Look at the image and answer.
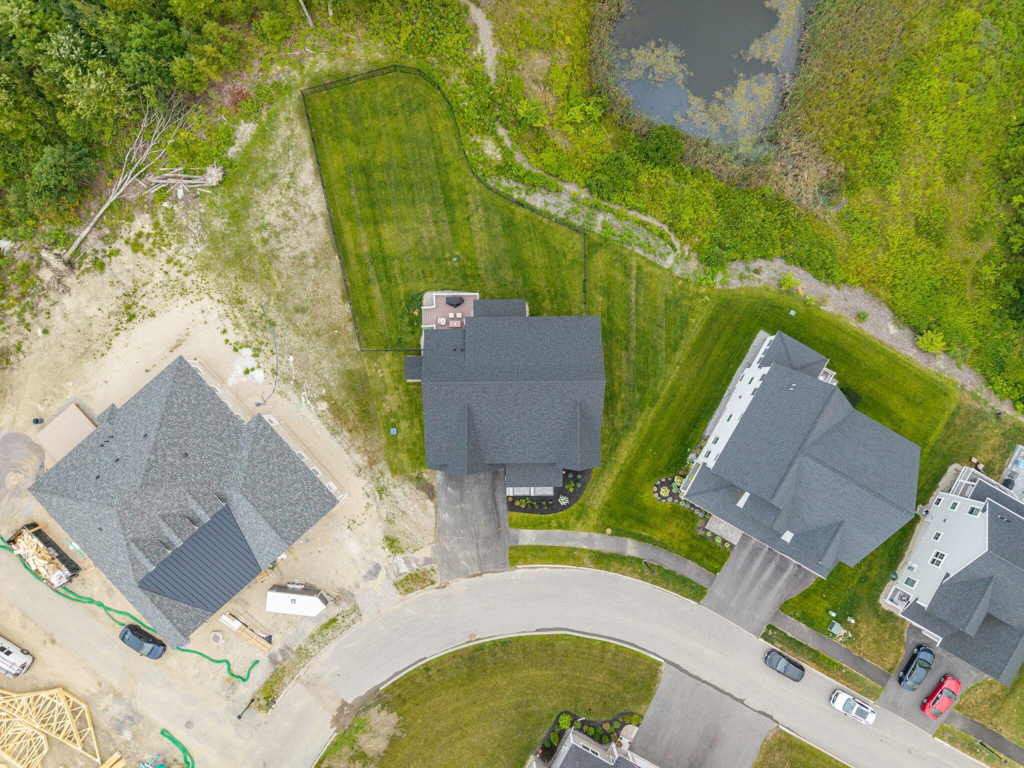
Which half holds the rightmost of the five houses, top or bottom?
bottom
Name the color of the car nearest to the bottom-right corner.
red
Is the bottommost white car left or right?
right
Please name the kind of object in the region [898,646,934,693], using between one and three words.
car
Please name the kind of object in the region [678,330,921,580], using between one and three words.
house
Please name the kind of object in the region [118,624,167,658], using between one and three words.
car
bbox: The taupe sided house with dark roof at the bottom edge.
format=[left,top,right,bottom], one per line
[550,720,658,768]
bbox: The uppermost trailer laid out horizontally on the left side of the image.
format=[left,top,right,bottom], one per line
[265,584,337,616]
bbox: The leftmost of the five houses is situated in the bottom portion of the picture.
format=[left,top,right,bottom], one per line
[30,355,343,649]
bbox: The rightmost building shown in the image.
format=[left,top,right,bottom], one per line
[866,481,1024,692]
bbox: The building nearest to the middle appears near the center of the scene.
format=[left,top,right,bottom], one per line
[404,299,606,487]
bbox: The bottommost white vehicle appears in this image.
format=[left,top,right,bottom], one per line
[829,691,879,728]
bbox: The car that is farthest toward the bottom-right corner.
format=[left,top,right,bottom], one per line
[922,675,960,721]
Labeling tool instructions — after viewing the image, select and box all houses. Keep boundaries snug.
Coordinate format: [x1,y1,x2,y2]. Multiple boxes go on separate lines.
[30,355,343,649]
[404,299,606,487]
[678,330,921,580]
[550,720,658,768]
[866,481,1024,692]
